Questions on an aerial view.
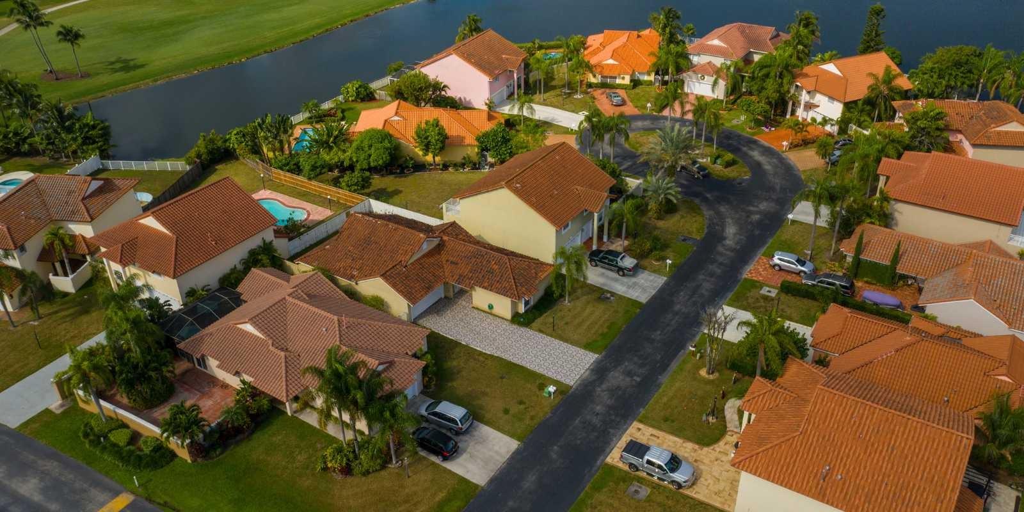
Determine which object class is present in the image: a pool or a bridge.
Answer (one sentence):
Visible in the photo is a pool.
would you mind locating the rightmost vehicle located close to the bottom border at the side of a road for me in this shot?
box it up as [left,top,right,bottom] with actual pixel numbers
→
[620,437,699,487]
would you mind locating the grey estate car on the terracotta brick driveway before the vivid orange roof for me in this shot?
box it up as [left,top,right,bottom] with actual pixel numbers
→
[605,88,625,104]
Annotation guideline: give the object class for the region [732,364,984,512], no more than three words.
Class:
house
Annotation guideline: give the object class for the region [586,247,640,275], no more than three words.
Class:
truck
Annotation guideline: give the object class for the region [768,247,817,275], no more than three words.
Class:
car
